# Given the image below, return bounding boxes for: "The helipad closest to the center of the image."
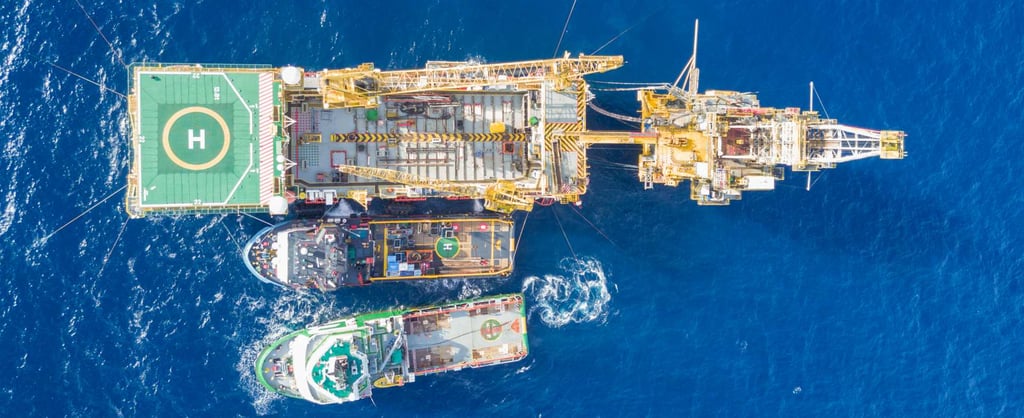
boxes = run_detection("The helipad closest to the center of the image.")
[435,235,459,259]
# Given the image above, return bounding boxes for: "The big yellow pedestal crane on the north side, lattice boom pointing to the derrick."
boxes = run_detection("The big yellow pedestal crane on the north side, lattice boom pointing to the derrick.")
[321,56,628,108]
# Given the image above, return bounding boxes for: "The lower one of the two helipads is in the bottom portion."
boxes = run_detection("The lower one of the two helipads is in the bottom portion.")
[480,318,503,340]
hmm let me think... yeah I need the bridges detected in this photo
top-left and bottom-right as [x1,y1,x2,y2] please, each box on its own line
[561,130,656,149]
